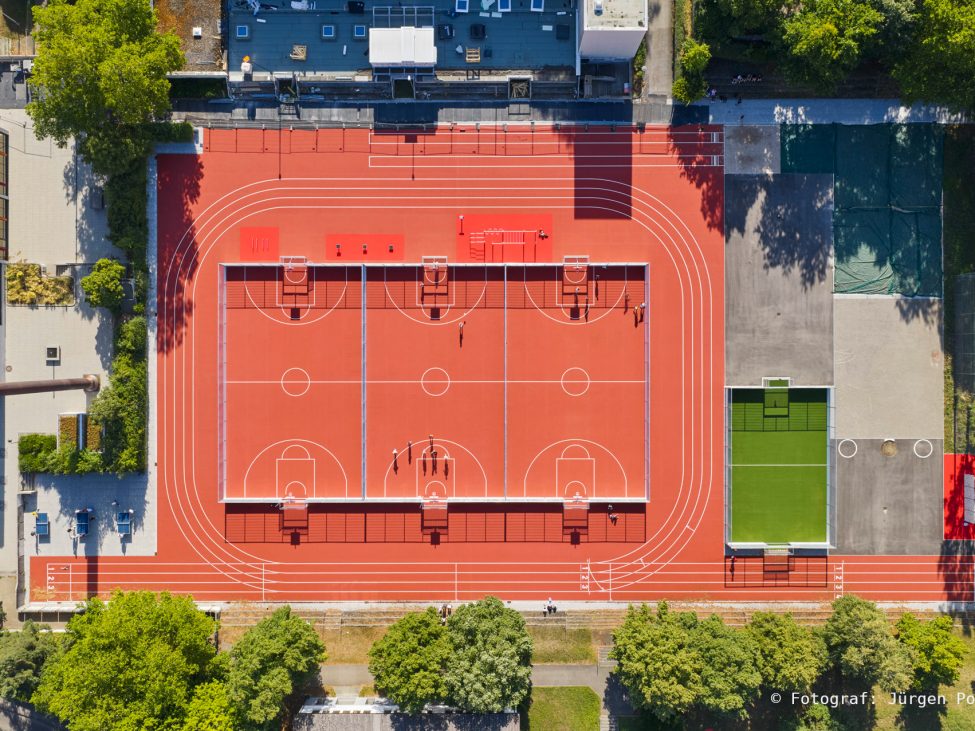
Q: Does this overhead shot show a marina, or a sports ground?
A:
sports ground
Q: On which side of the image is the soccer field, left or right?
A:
right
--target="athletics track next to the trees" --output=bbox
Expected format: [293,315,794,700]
[30,124,975,602]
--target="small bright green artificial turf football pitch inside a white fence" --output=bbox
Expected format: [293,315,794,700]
[727,379,827,551]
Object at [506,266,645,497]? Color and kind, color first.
red basketball court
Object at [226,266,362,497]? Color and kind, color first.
red basketball court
